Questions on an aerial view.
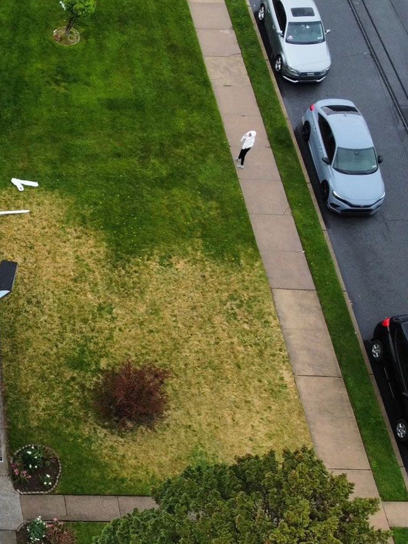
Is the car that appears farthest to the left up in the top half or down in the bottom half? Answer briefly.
top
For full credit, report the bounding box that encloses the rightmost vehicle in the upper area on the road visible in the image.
[300,99,386,216]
